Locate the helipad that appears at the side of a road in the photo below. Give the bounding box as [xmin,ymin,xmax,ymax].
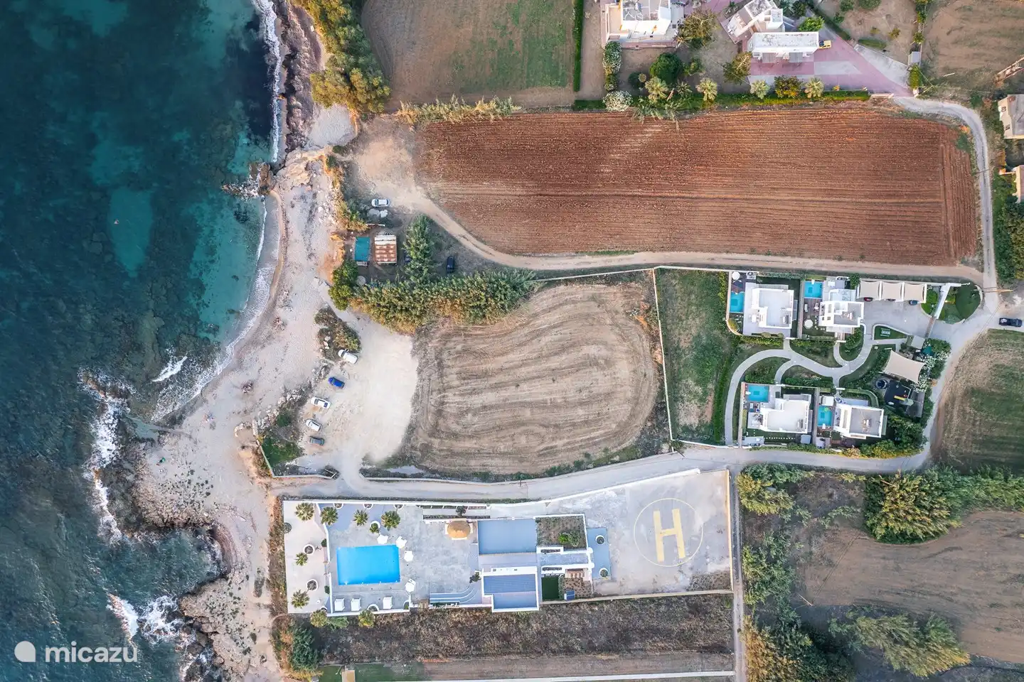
[588,471,729,597]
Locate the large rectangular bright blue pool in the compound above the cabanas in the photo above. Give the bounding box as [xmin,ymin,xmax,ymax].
[335,543,402,588]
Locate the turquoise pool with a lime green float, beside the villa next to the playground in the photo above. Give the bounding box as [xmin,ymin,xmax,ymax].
[817,404,833,428]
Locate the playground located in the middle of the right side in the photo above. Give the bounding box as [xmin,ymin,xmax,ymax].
[872,376,925,418]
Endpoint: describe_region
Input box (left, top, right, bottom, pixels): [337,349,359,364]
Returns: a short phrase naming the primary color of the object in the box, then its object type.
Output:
white vehicle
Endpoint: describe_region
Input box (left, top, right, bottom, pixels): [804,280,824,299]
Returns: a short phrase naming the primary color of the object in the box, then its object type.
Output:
blue swimming pool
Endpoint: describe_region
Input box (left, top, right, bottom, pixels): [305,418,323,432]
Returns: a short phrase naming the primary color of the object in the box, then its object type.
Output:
white car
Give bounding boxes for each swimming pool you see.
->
[746,384,770,404]
[729,290,746,314]
[804,280,824,299]
[817,404,833,428]
[335,543,402,588]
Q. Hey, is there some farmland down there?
Yes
